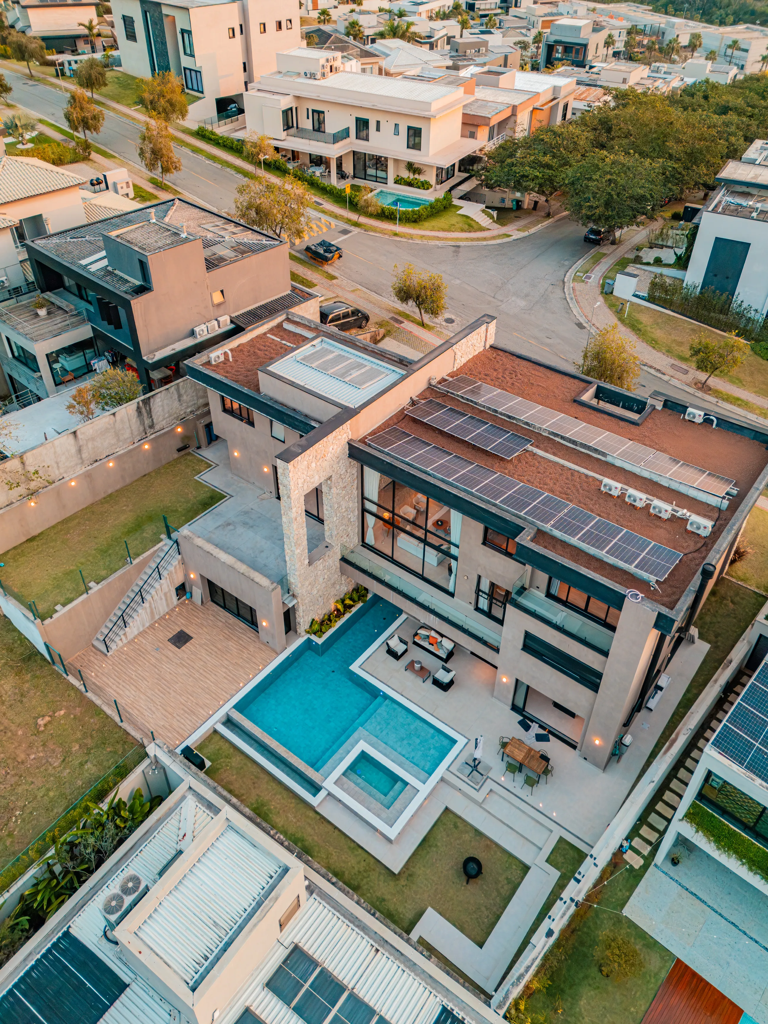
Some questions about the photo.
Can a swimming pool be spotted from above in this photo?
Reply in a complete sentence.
Yes, this view includes a swimming pool.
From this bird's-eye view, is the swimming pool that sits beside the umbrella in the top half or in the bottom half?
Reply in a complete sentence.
It is in the bottom half that the swimming pool that sits beside the umbrella appears.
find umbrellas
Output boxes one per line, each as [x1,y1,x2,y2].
[459,736,488,784]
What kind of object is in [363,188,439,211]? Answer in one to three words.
swimming pool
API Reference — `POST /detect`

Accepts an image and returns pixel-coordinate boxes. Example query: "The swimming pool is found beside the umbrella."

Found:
[176,589,472,848]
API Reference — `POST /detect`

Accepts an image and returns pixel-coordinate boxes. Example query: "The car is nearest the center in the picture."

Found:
[319,295,378,328]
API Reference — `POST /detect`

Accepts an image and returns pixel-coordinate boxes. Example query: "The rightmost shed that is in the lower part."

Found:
[728,615,768,688]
